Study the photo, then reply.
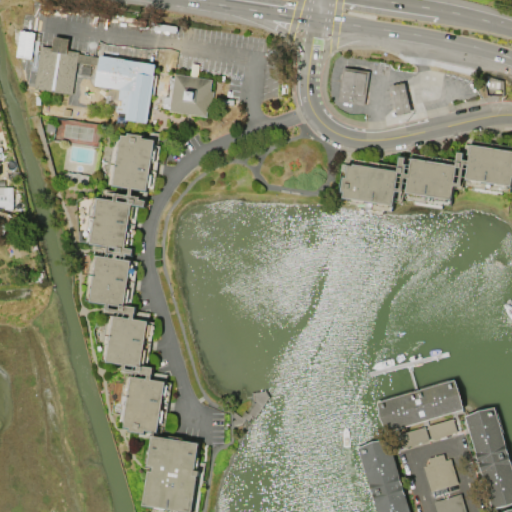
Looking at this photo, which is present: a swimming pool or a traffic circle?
swimming pool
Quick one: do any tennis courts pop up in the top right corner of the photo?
No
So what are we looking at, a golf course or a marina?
marina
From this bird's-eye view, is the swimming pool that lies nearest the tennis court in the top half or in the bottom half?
top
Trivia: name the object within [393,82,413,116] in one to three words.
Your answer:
building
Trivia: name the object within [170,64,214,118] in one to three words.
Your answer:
house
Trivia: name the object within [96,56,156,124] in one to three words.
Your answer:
building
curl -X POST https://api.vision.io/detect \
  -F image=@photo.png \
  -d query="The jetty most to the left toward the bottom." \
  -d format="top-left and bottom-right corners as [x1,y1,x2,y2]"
[244,391,270,424]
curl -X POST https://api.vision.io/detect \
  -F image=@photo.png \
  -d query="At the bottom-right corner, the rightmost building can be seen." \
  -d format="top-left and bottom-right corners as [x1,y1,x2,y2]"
[464,406,512,509]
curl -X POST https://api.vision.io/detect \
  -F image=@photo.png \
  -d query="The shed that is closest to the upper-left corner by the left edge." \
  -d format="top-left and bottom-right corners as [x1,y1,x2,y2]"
[16,30,36,60]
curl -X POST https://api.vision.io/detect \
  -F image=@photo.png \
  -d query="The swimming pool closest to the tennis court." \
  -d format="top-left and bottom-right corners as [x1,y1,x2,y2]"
[64,143,97,175]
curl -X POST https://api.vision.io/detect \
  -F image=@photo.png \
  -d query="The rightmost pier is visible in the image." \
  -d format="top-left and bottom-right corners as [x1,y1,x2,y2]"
[370,352,450,390]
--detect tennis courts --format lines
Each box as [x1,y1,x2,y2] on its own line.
[56,120,98,146]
